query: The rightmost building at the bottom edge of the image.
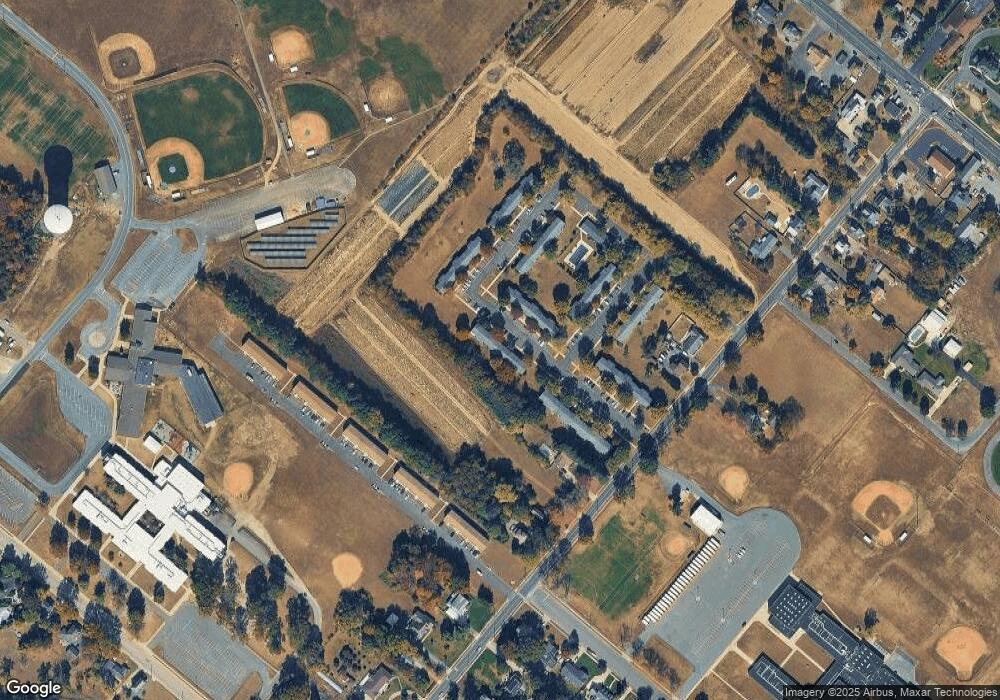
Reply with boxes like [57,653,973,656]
[749,581,928,700]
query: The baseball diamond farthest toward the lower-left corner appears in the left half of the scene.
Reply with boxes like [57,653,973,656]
[226,463,252,496]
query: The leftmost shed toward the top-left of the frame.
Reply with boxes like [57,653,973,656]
[96,163,116,193]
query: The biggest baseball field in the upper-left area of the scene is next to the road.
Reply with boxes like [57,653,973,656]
[132,72,268,193]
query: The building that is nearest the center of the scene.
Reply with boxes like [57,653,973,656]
[471,323,527,375]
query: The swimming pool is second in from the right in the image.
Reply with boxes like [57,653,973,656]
[744,184,761,199]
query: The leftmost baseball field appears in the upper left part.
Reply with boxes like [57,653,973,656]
[100,33,154,86]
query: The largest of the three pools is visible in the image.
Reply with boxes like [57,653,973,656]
[564,241,594,269]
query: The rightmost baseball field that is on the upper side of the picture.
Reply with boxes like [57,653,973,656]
[371,78,403,111]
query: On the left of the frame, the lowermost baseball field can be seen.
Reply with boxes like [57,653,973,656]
[335,554,362,587]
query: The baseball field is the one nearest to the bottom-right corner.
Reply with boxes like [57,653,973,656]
[937,627,989,680]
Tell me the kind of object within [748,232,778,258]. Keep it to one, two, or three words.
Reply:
house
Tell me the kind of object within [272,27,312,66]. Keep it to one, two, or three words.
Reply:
baseball field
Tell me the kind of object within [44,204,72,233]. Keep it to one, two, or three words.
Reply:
water tower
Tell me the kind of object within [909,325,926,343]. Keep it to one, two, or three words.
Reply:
swimming pool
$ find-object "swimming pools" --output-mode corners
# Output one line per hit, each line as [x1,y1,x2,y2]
[564,241,594,269]
[744,184,761,199]
[909,325,926,343]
